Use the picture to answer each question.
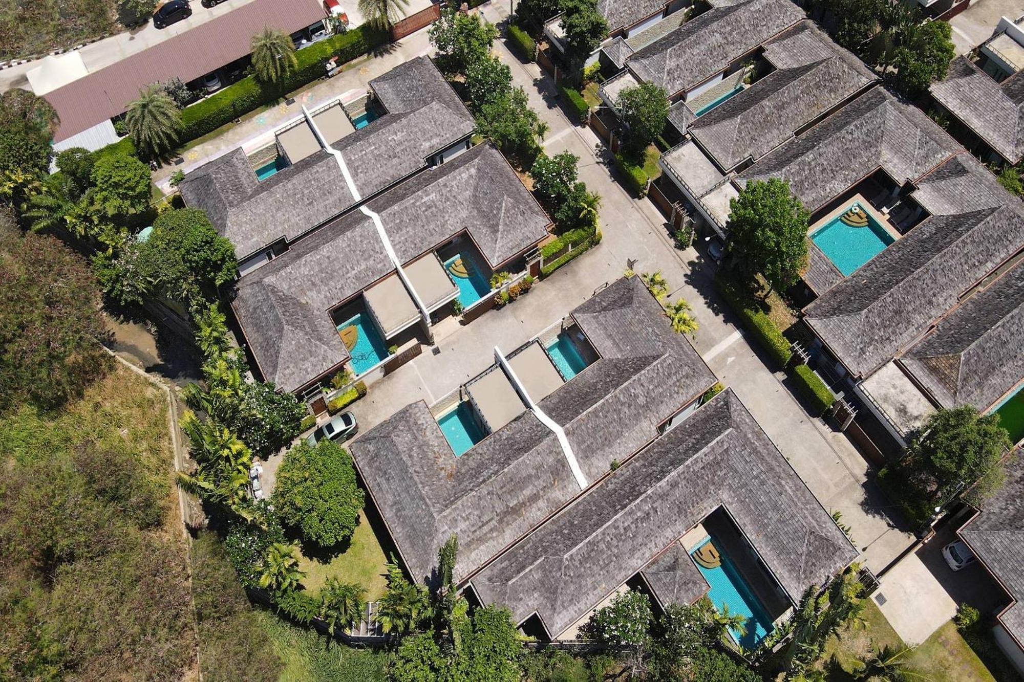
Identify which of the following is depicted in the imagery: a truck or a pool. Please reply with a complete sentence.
Of the two, only a pool appears.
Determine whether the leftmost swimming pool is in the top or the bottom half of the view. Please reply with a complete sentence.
The top half of the photo is where the leftmost swimming pool is.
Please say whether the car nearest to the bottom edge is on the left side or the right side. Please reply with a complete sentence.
The car nearest to the bottom edge is on the right side of the image.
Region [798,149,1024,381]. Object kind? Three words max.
house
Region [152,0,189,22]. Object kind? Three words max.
car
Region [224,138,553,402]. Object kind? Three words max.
house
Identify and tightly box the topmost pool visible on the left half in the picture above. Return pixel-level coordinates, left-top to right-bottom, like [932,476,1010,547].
[352,103,384,129]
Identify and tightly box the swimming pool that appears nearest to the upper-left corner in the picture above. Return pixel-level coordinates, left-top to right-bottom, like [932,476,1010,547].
[253,151,290,179]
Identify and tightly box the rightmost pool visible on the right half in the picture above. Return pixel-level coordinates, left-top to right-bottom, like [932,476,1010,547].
[981,381,1024,449]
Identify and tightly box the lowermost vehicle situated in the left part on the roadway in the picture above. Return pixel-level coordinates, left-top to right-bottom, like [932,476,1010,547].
[302,411,359,450]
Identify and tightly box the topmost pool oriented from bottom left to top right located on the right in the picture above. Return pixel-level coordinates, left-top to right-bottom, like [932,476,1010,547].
[697,79,753,119]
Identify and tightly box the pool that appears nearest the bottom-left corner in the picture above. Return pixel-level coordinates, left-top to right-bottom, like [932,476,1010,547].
[336,310,392,377]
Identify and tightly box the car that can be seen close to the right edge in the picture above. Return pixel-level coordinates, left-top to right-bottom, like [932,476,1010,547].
[938,541,976,575]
